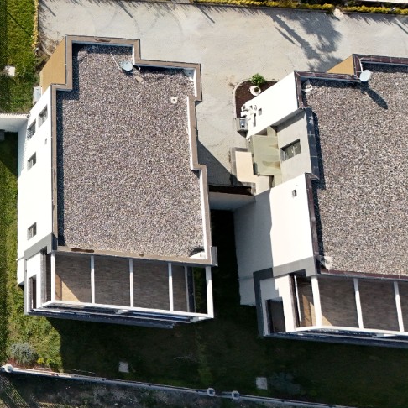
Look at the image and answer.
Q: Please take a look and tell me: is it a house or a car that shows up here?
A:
house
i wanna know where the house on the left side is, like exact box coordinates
[16,34,218,325]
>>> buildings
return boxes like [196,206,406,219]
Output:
[227,54,408,347]
[16,34,218,325]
